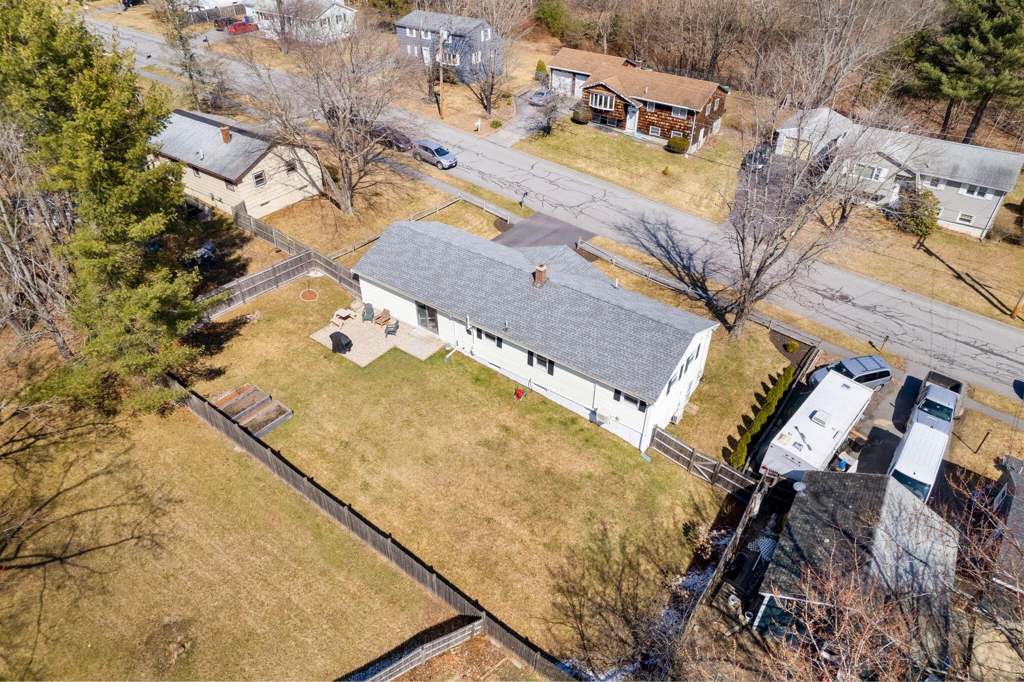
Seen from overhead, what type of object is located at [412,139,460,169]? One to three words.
car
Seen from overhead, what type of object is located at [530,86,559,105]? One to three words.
car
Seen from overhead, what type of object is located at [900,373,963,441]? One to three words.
truck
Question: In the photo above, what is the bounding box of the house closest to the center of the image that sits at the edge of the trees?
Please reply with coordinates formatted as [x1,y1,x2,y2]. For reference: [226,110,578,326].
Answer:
[349,221,721,450]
